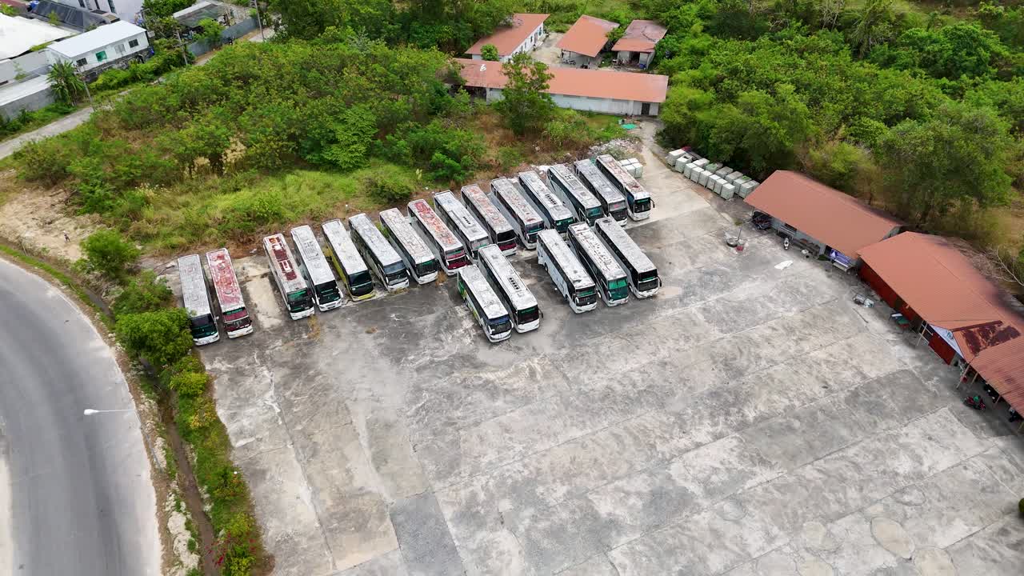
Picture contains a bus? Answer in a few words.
Yes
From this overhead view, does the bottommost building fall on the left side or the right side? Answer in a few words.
right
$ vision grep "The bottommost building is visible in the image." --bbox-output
[916,321,1024,429]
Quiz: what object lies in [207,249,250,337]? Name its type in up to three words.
bus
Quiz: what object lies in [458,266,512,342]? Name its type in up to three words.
bus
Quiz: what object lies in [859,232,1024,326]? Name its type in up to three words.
building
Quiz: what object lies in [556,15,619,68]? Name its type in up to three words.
shed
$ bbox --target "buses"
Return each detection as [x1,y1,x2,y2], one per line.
[537,230,597,312]
[461,185,518,256]
[349,215,407,290]
[322,221,373,298]
[263,234,313,318]
[291,227,340,309]
[519,173,574,242]
[568,224,629,305]
[573,160,628,223]
[207,249,250,337]
[379,209,438,285]
[596,155,654,220]
[408,200,467,273]
[491,179,546,247]
[548,166,605,229]
[594,219,662,296]
[458,266,512,342]
[435,192,491,263]
[179,255,217,343]
[479,245,543,332]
